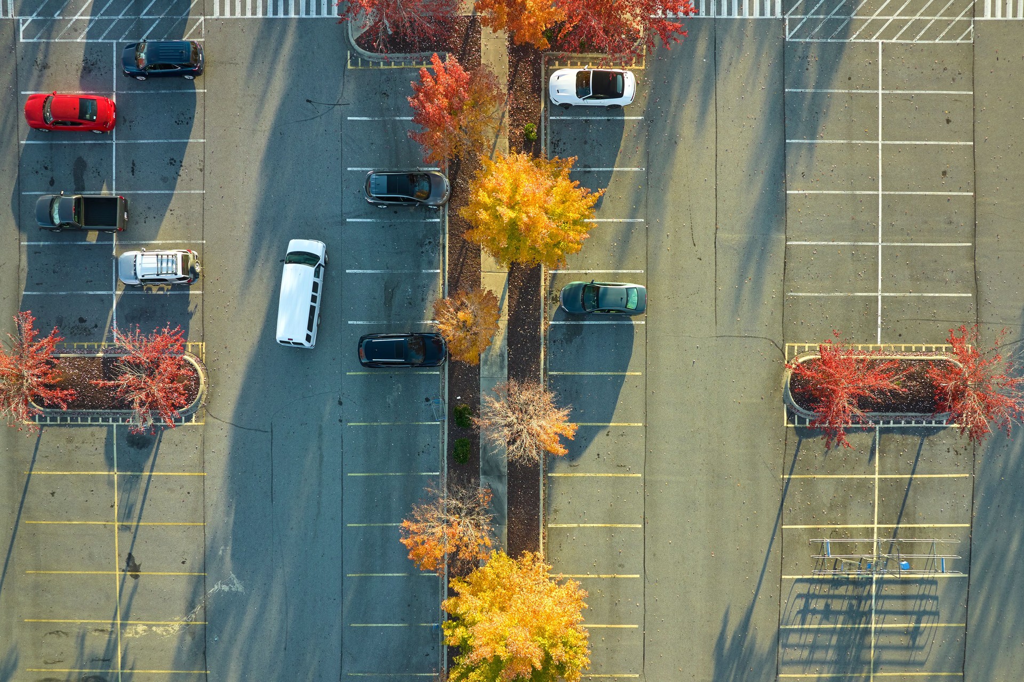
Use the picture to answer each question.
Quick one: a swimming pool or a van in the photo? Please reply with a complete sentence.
The image shows a van.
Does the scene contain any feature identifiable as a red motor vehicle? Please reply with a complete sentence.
Yes, the image includes a red motor vehicle.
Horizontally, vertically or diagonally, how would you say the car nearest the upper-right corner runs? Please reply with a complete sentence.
The car nearest the upper-right corner has been laid out horizontally relative to the frame.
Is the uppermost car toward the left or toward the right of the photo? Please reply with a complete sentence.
The uppermost car sits on the left side.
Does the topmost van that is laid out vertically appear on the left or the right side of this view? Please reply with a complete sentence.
You can find the topmost van that is laid out vertically on the left side of the picture.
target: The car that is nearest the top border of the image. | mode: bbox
[120,34,208,80]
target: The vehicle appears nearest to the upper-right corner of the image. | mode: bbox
[545,63,636,109]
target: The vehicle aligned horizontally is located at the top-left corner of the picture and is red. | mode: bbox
[23,87,118,133]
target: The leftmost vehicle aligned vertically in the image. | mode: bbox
[276,239,331,351]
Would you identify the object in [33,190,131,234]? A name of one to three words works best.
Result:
truck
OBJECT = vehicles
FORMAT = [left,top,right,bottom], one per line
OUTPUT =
[276,239,331,351]
[359,328,452,372]
[120,34,208,80]
[116,245,205,288]
[23,87,118,133]
[364,165,453,209]
[556,277,646,319]
[33,190,131,234]
[545,63,636,109]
